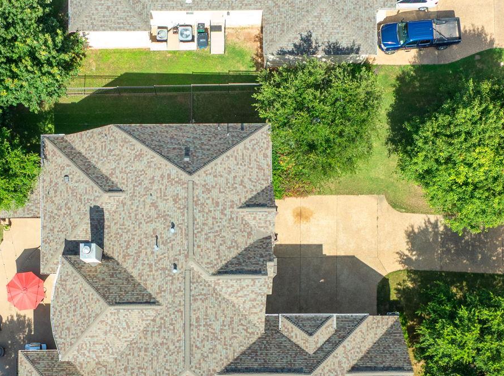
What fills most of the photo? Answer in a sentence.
The largest share of the image is taken up by buildings.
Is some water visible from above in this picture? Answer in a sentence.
No, water can't be seen anywhere here.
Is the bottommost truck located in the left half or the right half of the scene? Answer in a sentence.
It is on the right.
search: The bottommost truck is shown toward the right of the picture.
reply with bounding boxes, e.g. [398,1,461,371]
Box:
[378,15,463,55]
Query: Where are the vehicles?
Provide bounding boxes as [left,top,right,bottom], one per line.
[378,15,463,55]
[396,0,441,14]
